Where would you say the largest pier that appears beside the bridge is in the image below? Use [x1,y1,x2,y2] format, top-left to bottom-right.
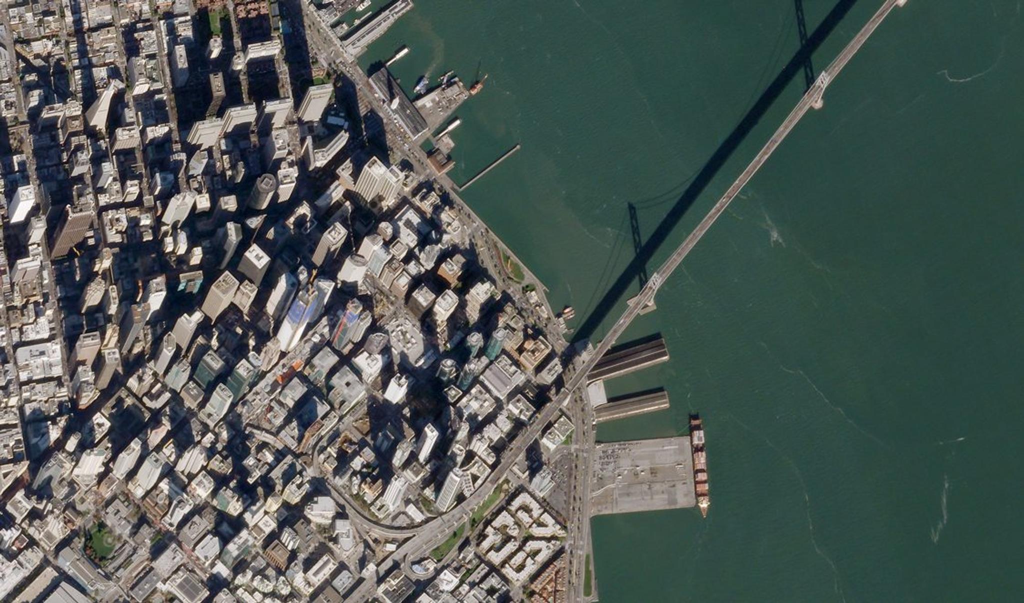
[589,435,696,518]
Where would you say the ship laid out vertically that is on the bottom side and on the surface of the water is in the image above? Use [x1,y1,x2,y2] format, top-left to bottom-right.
[691,412,710,518]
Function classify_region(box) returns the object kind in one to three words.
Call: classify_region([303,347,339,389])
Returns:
building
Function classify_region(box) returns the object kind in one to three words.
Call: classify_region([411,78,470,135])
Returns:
pier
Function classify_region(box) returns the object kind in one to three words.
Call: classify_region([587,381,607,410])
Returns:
shed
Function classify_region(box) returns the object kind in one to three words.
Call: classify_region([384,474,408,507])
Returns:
building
